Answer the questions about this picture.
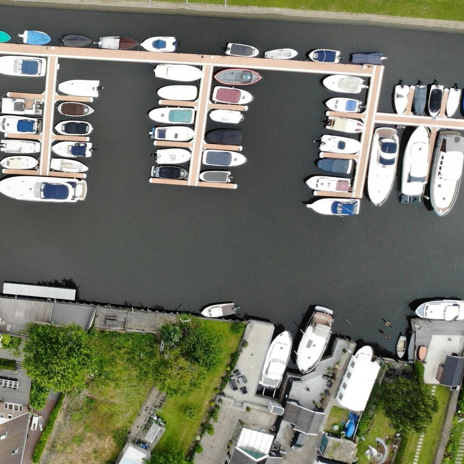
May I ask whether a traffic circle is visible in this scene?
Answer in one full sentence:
No, I find no traffic circle anywhere in the image.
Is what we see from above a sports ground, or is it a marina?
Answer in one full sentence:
The area seen from above is a marina.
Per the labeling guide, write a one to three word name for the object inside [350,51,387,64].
boat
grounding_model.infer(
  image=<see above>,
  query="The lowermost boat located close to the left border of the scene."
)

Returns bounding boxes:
[0,174,87,202]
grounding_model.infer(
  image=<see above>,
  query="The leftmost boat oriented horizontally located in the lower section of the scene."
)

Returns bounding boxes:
[201,302,241,318]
